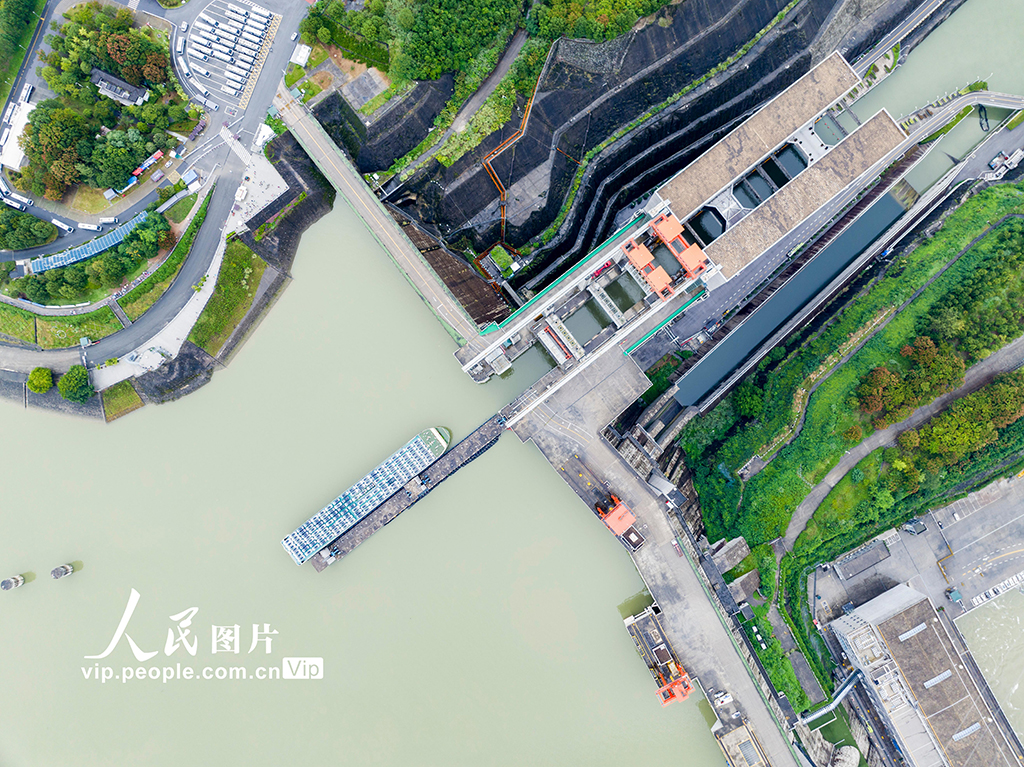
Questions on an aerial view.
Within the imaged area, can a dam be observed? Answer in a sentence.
Yes, the image includes a dam.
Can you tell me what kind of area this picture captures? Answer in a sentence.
This image shows a port.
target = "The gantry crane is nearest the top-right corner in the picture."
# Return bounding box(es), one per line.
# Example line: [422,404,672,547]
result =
[644,211,708,283]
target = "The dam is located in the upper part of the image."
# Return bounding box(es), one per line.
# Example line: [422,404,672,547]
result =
[263,94,515,347]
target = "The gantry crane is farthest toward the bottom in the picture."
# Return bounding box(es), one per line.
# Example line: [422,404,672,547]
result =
[650,664,697,708]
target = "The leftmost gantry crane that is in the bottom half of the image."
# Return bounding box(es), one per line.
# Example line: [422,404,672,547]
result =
[596,493,638,539]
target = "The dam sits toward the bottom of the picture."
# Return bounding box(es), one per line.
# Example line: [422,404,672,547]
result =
[505,263,822,767]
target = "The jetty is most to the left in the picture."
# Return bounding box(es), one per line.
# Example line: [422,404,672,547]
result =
[310,415,508,574]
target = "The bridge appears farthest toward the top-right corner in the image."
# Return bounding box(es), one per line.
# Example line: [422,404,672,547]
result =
[971,87,1024,112]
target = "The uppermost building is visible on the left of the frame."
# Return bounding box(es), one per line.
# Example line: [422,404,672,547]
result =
[291,44,313,69]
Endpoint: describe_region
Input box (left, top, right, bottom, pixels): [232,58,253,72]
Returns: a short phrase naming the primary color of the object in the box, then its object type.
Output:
white vehicle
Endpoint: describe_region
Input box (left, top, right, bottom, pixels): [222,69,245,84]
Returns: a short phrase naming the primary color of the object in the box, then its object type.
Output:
white vehicle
